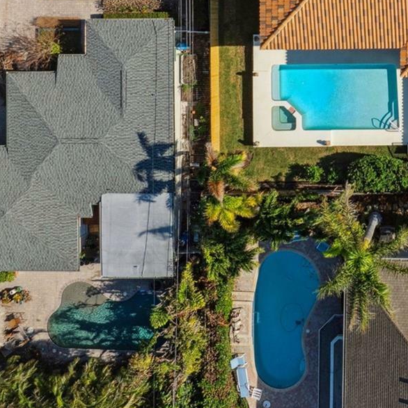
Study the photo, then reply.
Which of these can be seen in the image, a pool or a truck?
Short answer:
pool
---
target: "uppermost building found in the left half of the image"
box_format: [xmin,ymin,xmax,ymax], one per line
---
[0,17,186,277]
